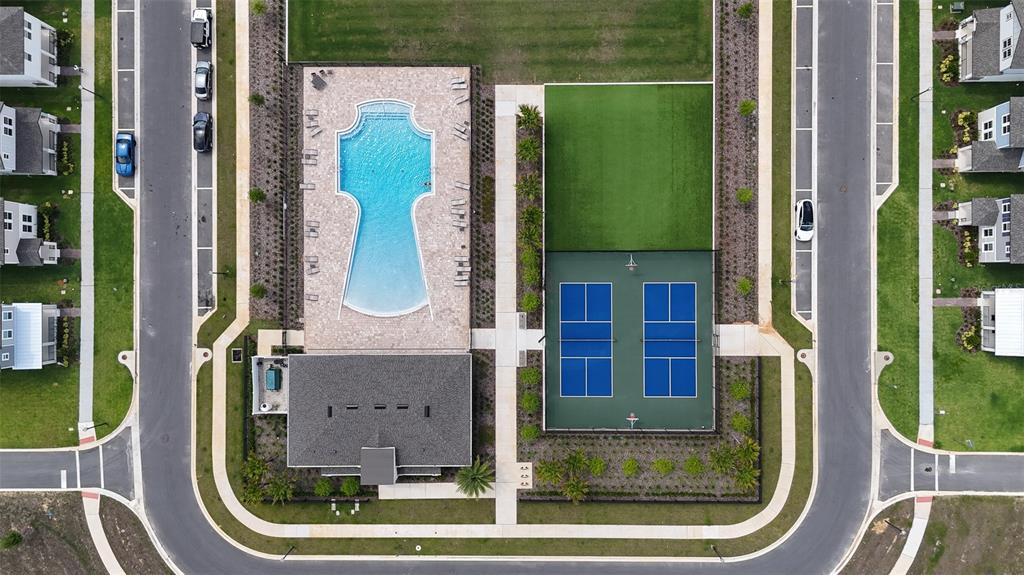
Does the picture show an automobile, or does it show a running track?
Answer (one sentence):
The one in the frame is an automobile.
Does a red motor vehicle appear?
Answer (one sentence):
No, no red motor vehicle is visible in the scene.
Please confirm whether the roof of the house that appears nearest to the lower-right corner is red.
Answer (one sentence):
No, the color of the roof of the house that appears nearest to the lower-right corner is white.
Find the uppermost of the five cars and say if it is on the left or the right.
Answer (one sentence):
The uppermost of the five cars appears in the left half of the scene.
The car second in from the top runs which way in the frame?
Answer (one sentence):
The car second in from the top is oriented vertically.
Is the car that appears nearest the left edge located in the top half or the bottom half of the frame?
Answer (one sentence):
The car that appears nearest the left edge is in the top half of the image.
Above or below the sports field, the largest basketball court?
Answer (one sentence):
Looking at the photo, you'll find the largest basketball court below the sports field.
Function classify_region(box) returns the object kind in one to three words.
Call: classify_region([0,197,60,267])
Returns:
house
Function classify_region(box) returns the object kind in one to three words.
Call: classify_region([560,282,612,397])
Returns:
sports court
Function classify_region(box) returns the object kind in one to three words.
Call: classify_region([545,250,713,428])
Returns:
basketball court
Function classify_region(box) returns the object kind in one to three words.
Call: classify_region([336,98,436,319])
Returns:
swimming pool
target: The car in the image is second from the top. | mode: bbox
[193,62,213,102]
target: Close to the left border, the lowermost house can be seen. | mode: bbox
[0,304,60,375]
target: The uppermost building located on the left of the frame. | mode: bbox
[0,7,60,86]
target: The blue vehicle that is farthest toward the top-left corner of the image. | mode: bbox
[113,134,136,177]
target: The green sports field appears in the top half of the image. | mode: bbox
[545,83,713,249]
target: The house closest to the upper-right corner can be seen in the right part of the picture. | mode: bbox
[957,2,1024,82]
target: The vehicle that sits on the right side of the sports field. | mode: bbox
[795,200,816,241]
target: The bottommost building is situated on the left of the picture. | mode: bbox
[286,352,473,485]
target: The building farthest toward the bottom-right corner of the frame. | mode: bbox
[977,288,1024,357]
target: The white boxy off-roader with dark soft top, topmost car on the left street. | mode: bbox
[191,9,213,51]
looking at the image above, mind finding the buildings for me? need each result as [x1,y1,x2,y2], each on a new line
[0,197,60,267]
[956,98,1024,173]
[286,352,473,485]
[0,304,60,375]
[977,288,1024,357]
[957,2,1024,82]
[0,7,60,86]
[0,101,60,176]
[948,191,1024,263]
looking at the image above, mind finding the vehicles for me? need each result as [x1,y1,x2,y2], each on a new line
[193,62,213,102]
[113,134,136,177]
[191,9,213,51]
[795,200,816,241]
[192,113,213,153]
